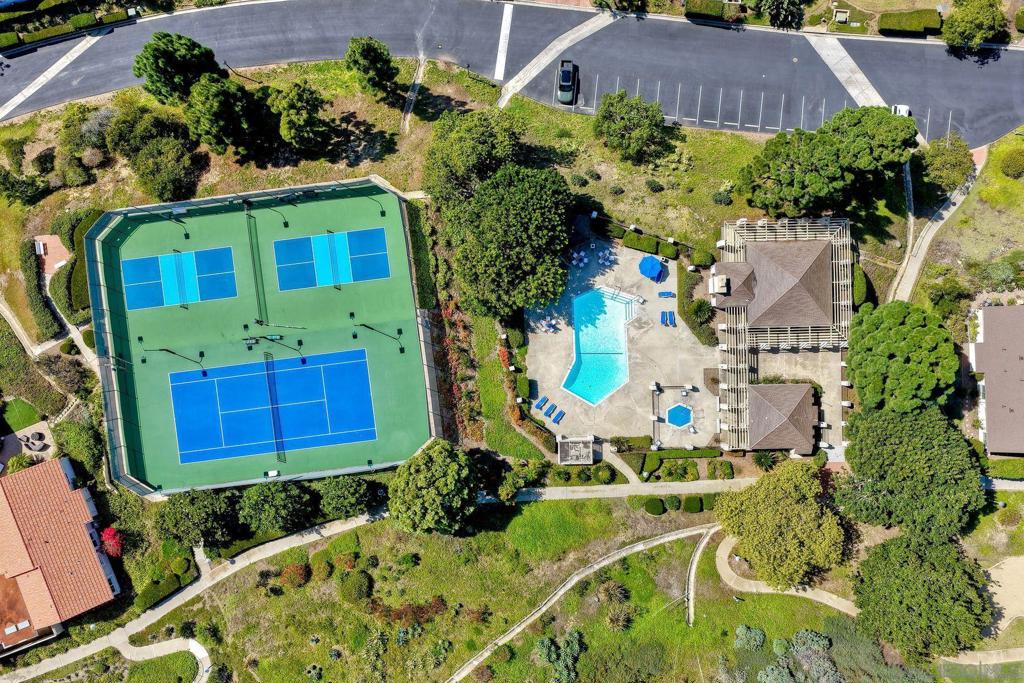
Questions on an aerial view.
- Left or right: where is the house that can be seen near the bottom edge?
left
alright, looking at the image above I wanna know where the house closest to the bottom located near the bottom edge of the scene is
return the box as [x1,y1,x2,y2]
[0,453,125,654]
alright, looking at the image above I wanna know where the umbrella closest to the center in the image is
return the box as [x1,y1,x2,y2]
[638,255,662,279]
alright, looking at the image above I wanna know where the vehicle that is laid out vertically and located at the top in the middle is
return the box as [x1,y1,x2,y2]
[558,57,576,104]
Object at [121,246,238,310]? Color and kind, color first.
blue sports court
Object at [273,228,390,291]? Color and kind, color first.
blue sports court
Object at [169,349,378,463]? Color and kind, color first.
blue tennis court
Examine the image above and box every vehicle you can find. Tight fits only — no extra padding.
[890,102,911,122]
[558,57,576,104]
